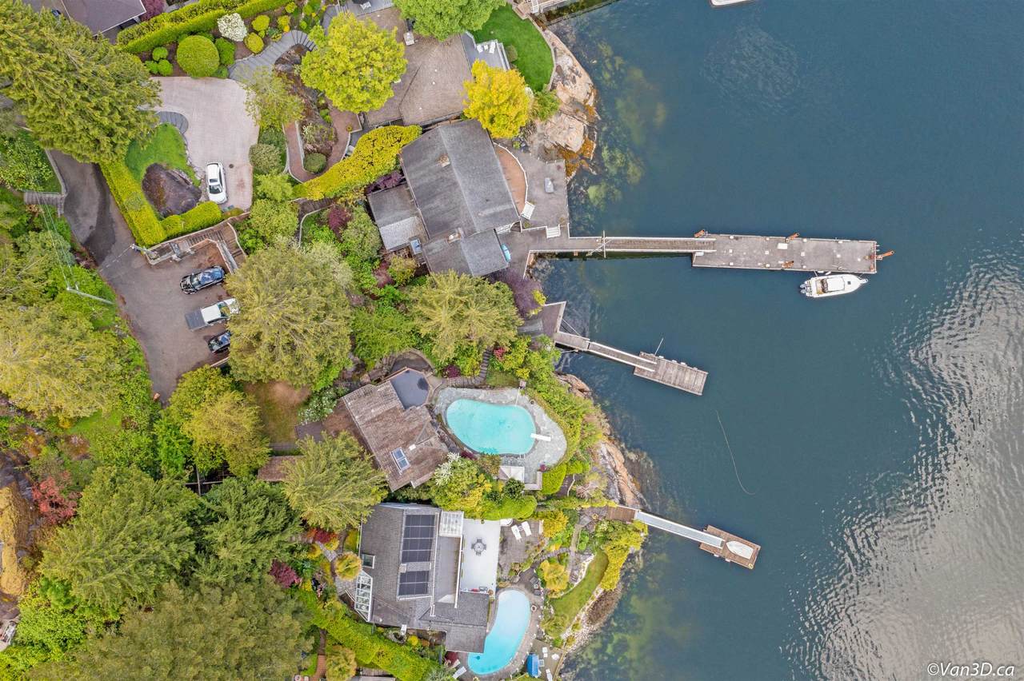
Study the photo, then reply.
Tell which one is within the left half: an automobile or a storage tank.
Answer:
automobile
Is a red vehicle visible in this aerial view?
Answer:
No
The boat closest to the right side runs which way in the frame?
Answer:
from side to side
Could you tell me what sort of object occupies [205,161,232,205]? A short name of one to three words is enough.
car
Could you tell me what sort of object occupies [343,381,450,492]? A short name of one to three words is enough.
house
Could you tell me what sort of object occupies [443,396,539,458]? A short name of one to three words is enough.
swimming pool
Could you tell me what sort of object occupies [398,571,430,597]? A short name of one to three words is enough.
solar array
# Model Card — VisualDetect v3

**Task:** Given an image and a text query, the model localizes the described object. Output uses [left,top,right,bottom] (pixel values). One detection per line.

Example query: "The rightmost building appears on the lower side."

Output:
[499,465,524,482]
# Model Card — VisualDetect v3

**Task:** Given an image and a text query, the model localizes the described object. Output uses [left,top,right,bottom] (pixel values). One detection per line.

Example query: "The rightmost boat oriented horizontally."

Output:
[796,276,871,299]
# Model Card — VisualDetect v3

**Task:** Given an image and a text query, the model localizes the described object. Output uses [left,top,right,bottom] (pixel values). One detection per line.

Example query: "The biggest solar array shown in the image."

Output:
[401,515,436,563]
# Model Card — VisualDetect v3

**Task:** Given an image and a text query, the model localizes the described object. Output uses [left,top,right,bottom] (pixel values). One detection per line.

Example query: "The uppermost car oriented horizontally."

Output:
[180,266,229,294]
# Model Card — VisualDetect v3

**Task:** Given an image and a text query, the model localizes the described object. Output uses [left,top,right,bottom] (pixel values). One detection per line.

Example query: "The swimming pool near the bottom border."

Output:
[465,586,534,679]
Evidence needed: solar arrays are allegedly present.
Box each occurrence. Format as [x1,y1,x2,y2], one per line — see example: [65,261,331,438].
[401,515,436,563]
[398,571,430,597]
